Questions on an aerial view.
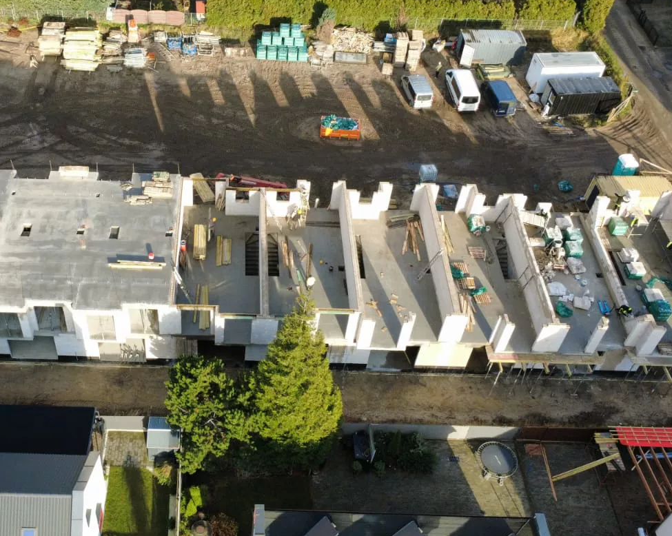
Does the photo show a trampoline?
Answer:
Yes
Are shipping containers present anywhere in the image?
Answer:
Yes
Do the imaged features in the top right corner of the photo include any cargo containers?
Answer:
Yes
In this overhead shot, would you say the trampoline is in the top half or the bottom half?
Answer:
bottom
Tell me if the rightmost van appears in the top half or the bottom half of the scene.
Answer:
top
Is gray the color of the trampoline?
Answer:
Yes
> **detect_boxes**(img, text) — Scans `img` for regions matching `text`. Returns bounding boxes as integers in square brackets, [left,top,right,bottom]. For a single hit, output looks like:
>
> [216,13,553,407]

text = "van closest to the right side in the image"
[481,79,520,115]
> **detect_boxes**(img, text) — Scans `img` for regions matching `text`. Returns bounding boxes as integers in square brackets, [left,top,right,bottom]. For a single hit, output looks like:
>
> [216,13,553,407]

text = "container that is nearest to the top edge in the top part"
[458,34,534,71]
